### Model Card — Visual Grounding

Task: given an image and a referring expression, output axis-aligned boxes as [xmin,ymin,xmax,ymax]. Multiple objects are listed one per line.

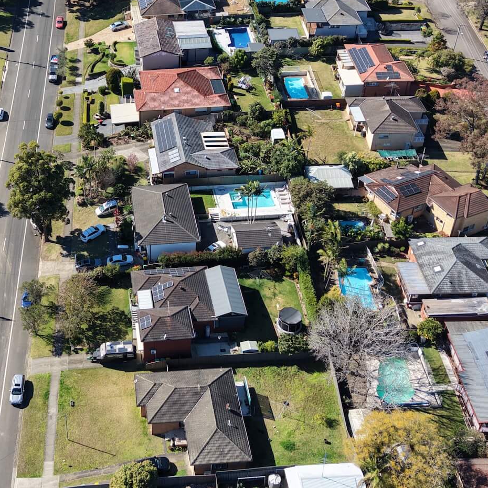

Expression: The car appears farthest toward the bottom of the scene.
[144,452,181,479]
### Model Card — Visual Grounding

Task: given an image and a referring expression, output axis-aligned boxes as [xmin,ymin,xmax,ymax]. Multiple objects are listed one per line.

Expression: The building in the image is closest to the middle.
[228,222,281,260]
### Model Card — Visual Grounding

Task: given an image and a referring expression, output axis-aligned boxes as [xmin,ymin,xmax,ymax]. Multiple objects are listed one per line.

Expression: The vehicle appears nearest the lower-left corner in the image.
[8,375,24,406]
